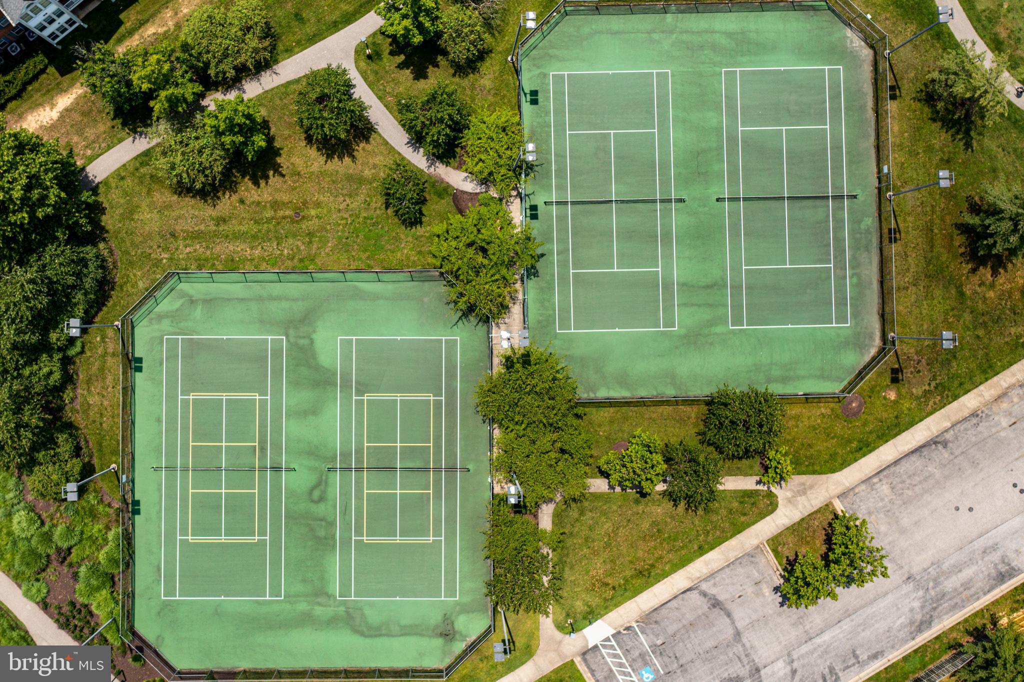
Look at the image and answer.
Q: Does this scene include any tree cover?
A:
Yes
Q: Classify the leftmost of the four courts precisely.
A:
tennis court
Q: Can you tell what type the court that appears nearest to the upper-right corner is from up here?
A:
tennis court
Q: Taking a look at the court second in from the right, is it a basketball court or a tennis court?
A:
tennis court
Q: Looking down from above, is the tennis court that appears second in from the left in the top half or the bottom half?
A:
bottom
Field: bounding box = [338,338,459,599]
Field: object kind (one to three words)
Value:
tennis court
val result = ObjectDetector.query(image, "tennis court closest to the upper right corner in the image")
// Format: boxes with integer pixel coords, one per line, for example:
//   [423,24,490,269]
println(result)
[723,67,850,328]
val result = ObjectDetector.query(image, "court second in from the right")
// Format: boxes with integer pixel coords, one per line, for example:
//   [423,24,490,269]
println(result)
[551,70,677,332]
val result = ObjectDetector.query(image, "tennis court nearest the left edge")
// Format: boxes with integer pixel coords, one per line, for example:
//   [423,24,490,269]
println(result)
[162,337,285,599]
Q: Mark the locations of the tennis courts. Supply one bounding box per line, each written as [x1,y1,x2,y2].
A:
[162,337,285,599]
[723,67,850,328]
[338,338,459,599]
[551,70,677,332]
